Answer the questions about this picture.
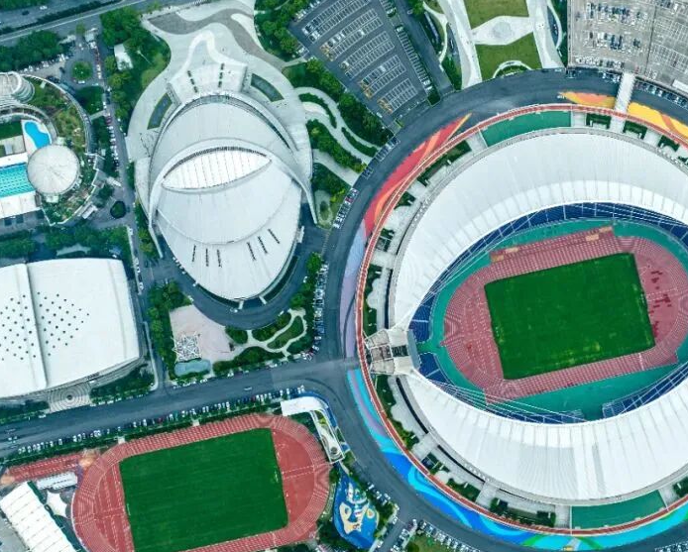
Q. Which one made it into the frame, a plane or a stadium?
stadium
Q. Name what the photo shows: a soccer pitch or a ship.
soccer pitch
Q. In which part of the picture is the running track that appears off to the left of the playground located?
bottom left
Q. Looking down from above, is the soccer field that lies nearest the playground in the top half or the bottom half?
bottom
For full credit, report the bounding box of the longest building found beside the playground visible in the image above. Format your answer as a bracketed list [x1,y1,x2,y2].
[280,389,350,463]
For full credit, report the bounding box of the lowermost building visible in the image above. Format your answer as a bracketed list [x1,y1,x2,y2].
[37,470,79,489]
